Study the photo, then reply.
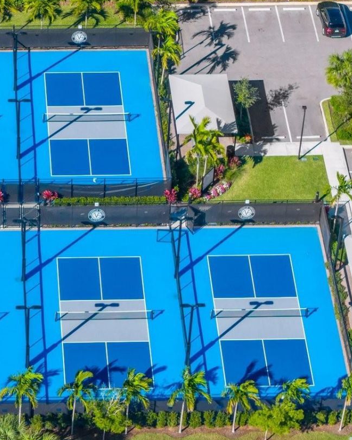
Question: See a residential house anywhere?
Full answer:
No, the picture doesn't show any residential house.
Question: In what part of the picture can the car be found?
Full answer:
The car sits in the top right section of the image.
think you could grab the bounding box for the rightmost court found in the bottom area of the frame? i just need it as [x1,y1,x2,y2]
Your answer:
[171,226,352,398]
